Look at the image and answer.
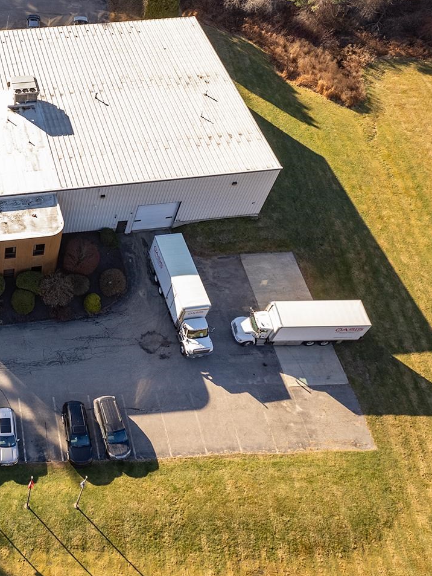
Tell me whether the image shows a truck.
Yes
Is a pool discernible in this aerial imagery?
No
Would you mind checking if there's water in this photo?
No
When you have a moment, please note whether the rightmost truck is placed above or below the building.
below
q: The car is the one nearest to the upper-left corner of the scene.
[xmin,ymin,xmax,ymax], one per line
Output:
[24,15,42,29]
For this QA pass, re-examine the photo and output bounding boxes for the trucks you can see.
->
[230,300,371,345]
[150,233,220,357]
